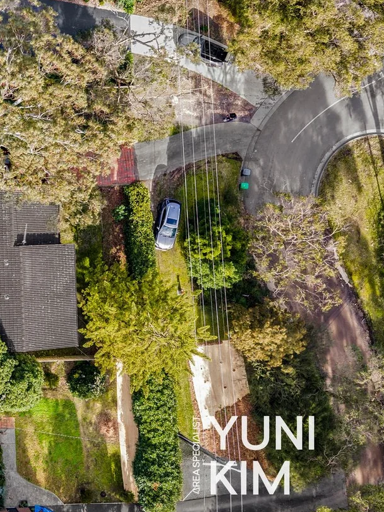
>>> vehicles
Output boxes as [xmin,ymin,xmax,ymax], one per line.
[173,32,228,71]
[151,198,180,250]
